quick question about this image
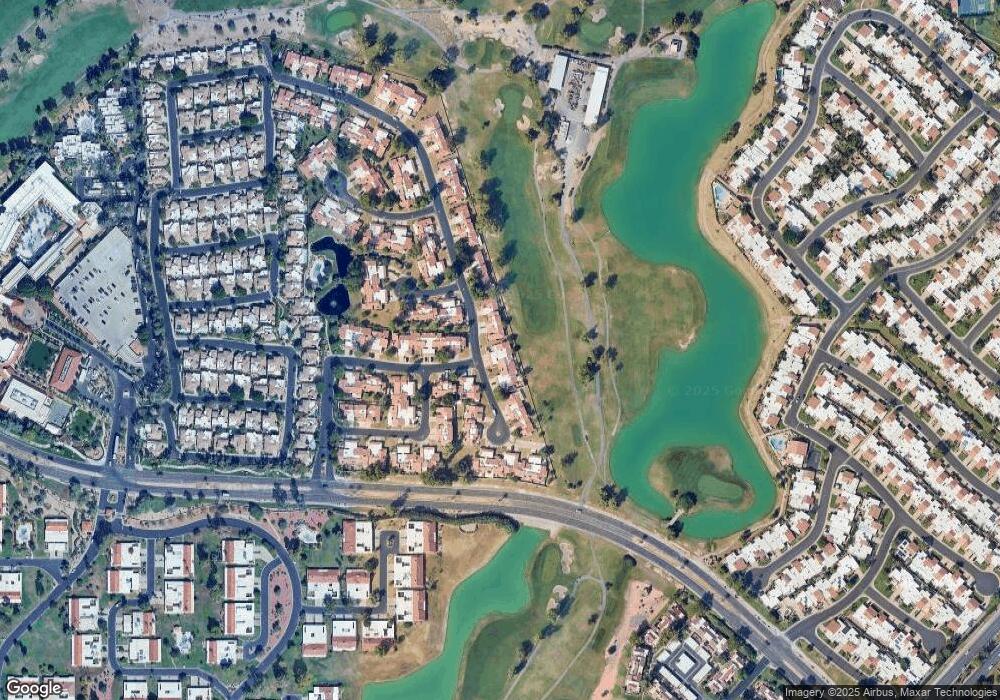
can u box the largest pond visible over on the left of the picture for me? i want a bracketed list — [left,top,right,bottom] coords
[309,236,353,317]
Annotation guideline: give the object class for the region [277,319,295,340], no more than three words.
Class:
swimming pool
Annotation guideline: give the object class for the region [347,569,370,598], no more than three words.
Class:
building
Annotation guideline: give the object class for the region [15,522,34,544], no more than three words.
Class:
swimming pool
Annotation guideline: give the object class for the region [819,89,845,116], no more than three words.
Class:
house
